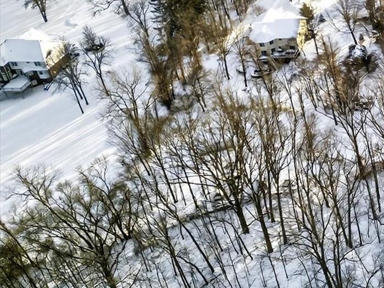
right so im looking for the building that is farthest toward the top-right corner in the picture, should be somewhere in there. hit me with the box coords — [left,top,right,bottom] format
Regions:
[245,9,307,67]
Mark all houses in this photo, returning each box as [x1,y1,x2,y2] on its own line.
[0,27,75,95]
[245,9,307,67]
